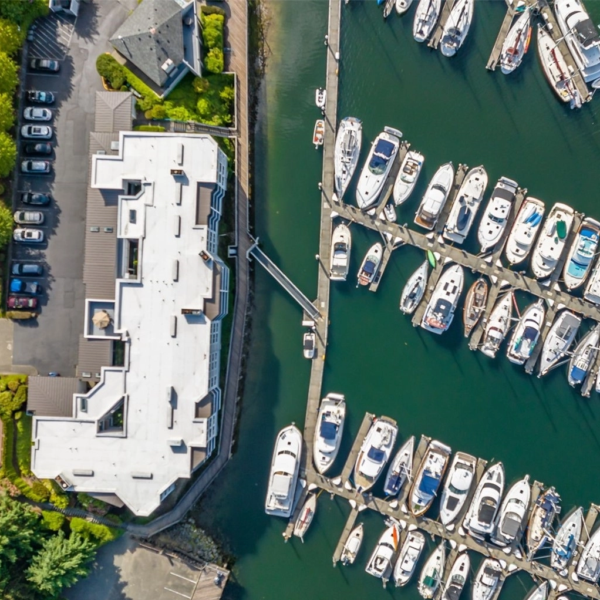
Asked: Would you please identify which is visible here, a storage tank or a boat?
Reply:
boat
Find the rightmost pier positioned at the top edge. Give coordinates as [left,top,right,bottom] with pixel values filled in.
[541,1,592,104]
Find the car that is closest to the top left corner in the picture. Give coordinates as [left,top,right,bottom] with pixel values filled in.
[30,57,61,73]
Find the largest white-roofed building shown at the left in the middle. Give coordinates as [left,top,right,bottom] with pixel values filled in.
[31,131,230,515]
